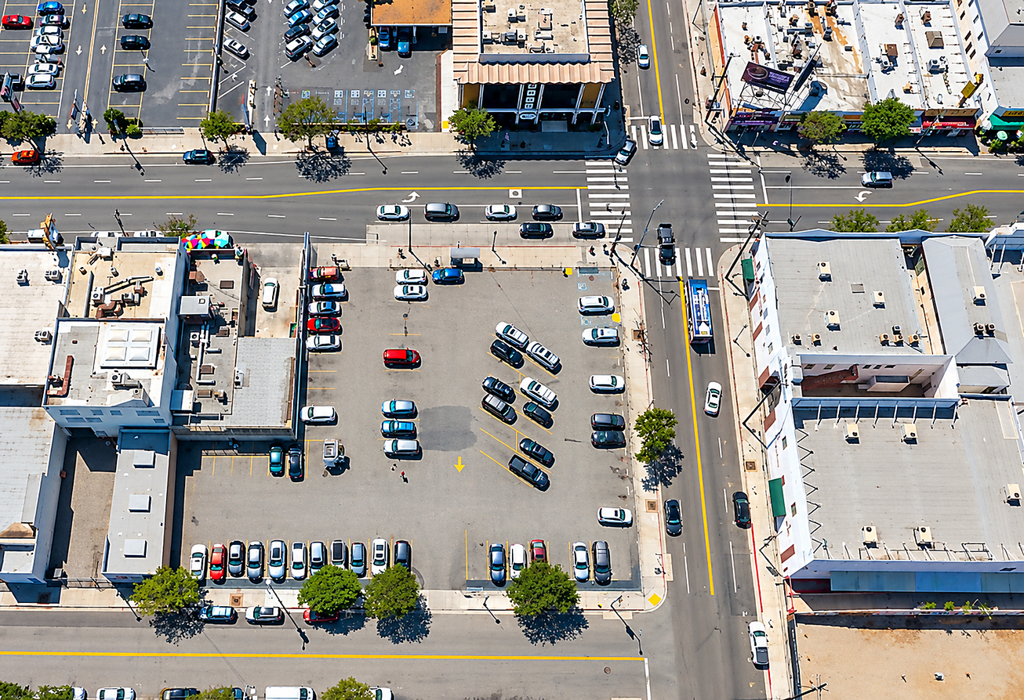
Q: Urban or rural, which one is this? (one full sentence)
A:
This place is urban.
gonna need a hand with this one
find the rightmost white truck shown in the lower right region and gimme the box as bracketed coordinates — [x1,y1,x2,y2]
[744,620,774,672]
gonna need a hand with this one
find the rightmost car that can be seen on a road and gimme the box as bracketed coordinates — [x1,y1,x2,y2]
[860,172,893,187]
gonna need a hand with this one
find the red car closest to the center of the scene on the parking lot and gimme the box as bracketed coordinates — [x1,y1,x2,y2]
[382,350,421,367]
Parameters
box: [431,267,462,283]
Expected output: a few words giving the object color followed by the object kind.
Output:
blue car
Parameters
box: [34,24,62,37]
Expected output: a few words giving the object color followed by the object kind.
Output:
white vehicle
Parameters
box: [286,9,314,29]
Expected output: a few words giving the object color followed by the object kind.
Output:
blue car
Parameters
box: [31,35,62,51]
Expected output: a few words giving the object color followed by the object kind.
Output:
white car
